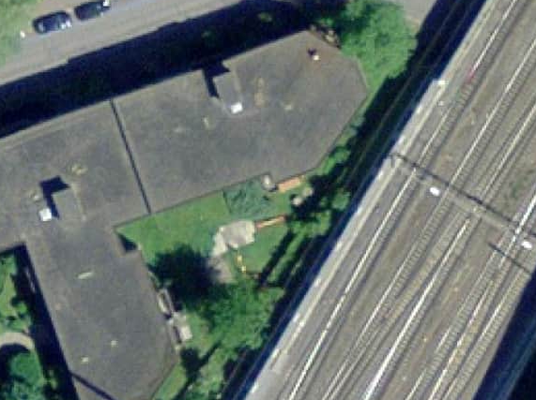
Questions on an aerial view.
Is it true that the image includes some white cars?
No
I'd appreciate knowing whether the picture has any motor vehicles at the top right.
No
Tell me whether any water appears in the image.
No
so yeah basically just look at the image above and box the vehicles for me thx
[75,0,112,21]
[33,9,73,35]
